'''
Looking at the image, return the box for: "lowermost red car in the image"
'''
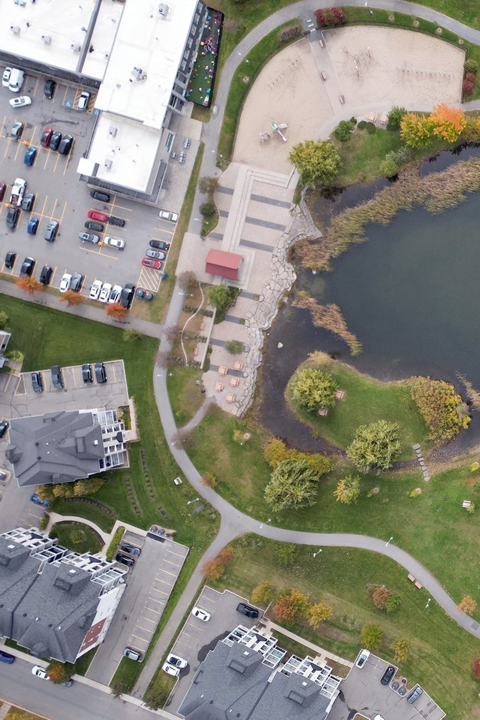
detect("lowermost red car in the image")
[140,257,162,270]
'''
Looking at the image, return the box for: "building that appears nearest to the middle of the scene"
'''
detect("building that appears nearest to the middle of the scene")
[199,248,239,276]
